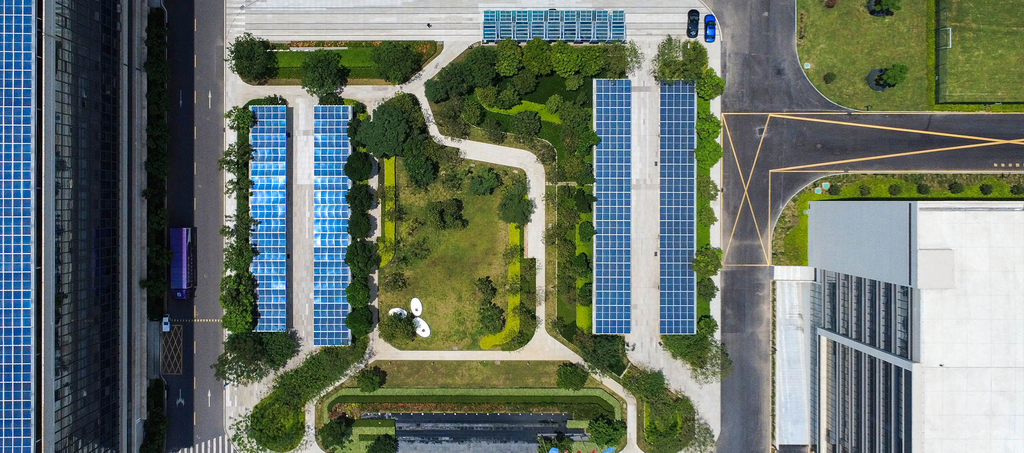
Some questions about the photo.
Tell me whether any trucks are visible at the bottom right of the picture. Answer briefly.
No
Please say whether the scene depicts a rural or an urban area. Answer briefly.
urban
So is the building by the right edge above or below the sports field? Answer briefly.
below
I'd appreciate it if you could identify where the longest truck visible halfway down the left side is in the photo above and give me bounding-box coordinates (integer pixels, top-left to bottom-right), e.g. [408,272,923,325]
[170,227,194,299]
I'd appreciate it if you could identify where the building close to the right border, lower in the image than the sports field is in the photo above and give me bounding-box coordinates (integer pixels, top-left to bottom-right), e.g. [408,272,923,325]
[806,200,1024,453]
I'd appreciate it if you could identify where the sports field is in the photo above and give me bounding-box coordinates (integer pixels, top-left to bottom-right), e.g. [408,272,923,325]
[948,0,1024,100]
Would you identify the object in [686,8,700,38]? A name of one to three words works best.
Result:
car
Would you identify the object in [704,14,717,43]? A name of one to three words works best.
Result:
vehicle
